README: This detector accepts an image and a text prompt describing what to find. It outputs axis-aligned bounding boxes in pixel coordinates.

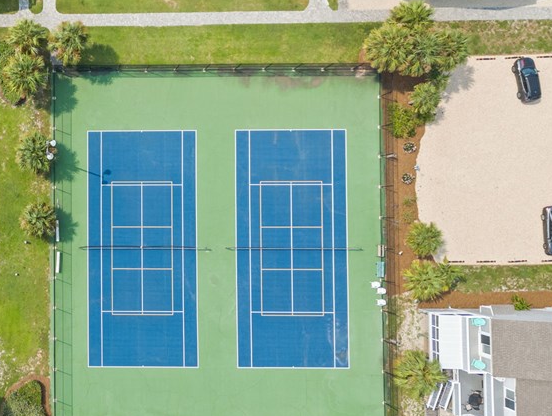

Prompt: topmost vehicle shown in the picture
[513,57,544,103]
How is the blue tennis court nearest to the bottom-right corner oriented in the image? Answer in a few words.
vertically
